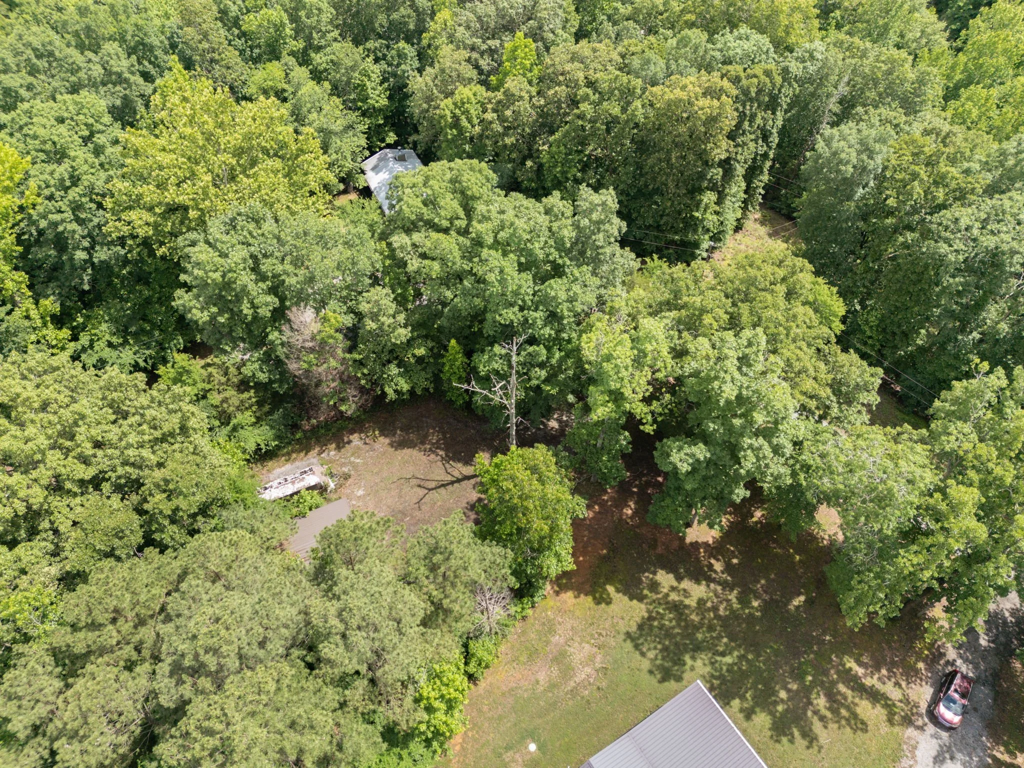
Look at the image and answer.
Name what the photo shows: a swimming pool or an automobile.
automobile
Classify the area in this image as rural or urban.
rural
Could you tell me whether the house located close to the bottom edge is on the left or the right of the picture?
right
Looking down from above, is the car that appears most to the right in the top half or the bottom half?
bottom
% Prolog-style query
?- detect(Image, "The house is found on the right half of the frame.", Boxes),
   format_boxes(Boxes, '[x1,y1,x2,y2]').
[579,679,768,768]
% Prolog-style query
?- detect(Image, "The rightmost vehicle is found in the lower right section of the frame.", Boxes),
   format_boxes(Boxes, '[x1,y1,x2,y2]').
[929,667,974,729]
